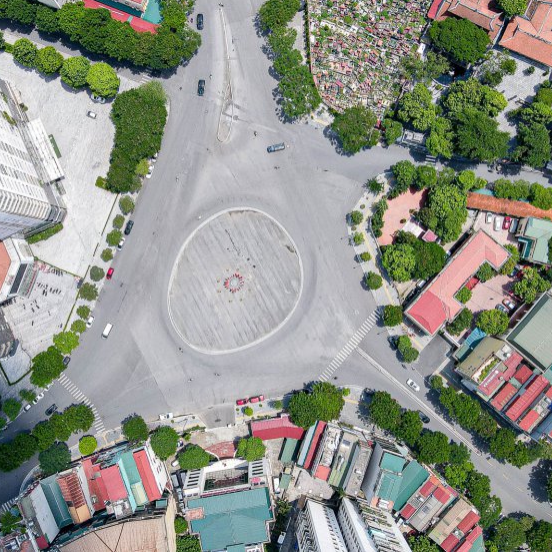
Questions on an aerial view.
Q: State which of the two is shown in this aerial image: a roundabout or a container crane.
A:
roundabout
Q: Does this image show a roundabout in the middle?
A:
Yes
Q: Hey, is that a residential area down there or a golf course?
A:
residential area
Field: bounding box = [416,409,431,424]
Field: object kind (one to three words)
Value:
car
